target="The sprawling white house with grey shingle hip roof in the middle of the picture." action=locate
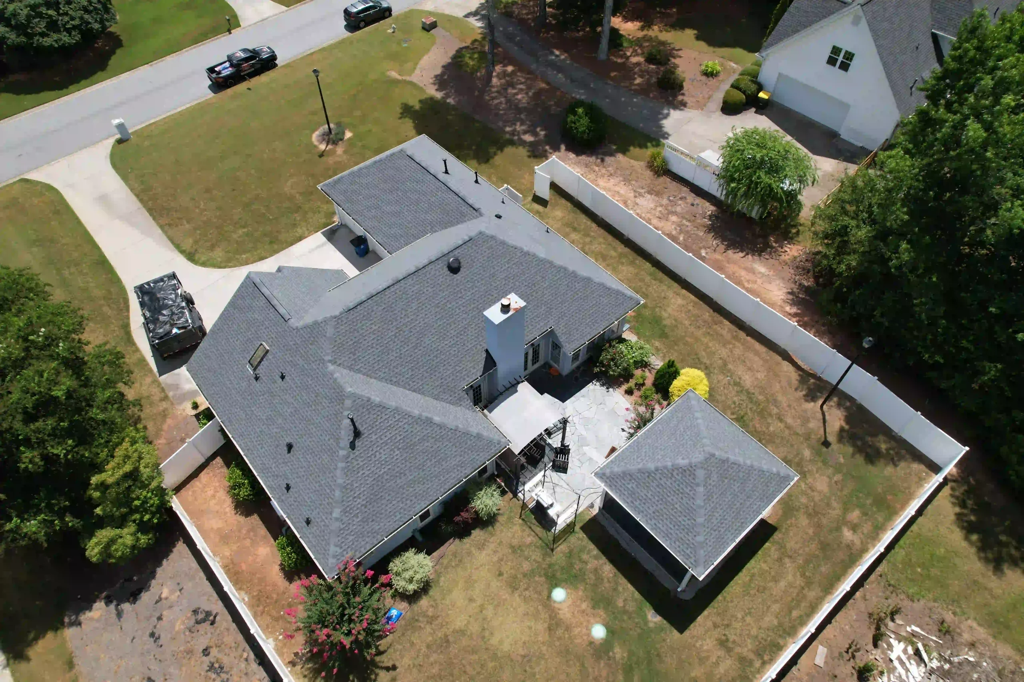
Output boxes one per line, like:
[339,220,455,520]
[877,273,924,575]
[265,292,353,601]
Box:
[183,133,646,583]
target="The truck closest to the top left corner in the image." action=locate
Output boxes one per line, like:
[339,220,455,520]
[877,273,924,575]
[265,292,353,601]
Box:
[201,42,283,86]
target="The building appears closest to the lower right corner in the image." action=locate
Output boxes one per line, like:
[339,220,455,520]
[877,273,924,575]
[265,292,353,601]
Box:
[588,387,803,599]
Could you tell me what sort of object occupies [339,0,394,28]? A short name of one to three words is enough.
car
